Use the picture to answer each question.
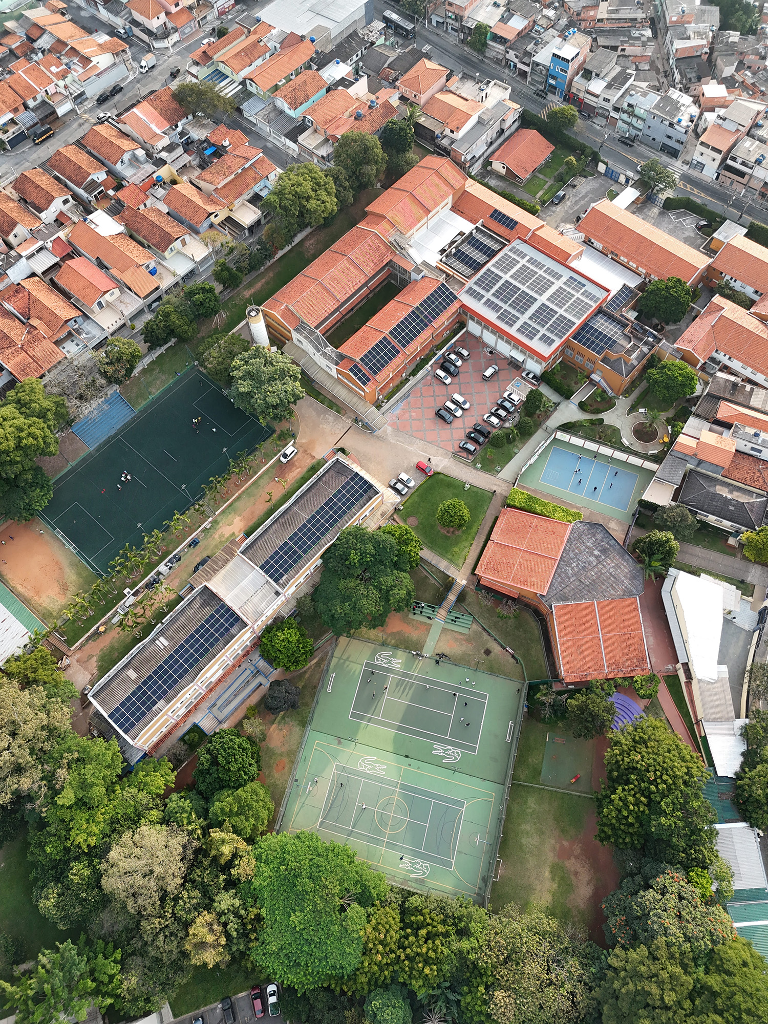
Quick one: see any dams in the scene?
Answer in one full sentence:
No, no dam is visible in the scene.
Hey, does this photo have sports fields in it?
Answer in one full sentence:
Yes, the image includes a sports field.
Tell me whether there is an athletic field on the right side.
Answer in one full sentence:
No, no athletic field is visible on the right side.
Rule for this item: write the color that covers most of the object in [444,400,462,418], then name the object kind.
white car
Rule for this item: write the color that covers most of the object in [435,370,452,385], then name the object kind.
white car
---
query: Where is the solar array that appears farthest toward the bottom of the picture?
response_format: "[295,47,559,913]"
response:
[108,604,240,734]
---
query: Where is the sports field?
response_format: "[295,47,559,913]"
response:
[36,364,275,580]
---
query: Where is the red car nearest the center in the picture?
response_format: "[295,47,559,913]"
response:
[415,462,434,477]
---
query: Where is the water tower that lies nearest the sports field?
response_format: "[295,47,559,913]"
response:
[244,306,272,354]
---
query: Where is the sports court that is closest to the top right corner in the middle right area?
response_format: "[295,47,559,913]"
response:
[519,438,656,524]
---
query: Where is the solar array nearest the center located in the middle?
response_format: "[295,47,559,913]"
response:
[259,472,372,583]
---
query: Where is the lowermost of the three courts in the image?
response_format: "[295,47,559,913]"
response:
[276,722,508,895]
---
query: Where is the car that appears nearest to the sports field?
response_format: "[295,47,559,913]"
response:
[280,448,298,463]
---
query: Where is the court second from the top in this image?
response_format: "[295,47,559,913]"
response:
[294,636,527,786]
